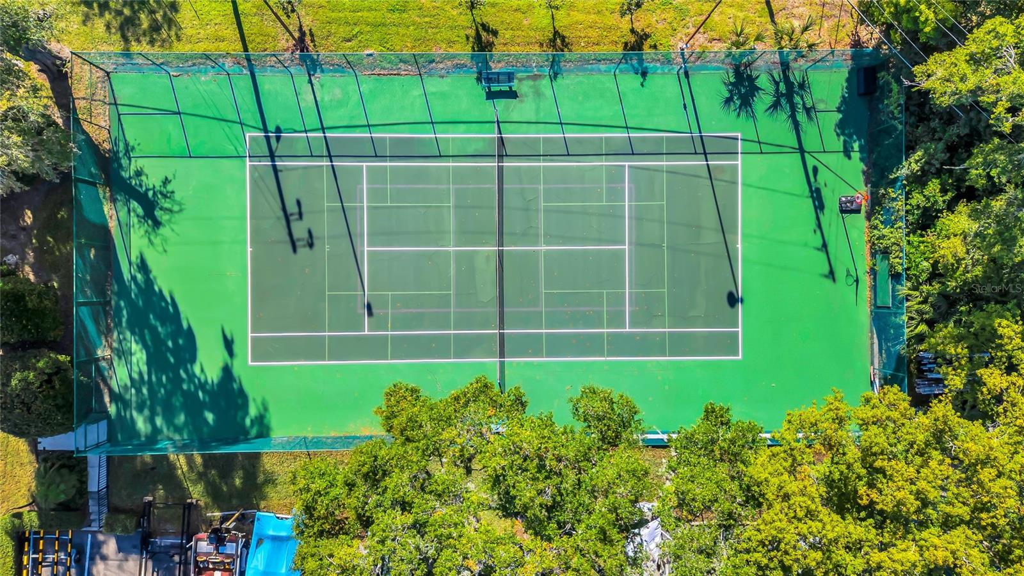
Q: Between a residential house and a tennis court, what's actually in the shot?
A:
tennis court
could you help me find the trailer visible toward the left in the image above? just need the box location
[133,495,197,576]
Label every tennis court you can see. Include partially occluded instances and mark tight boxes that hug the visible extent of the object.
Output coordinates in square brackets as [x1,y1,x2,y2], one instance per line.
[106,64,871,443]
